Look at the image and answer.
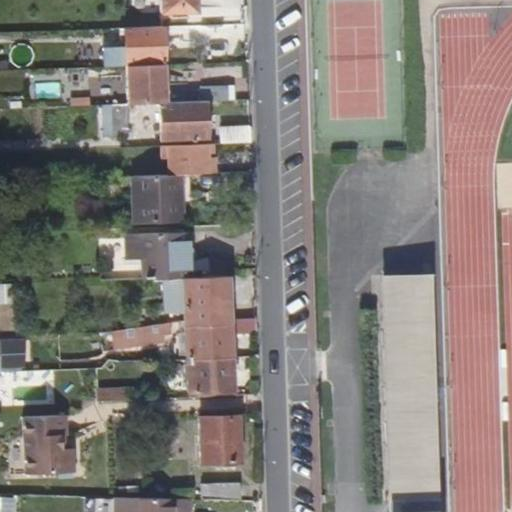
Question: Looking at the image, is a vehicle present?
Yes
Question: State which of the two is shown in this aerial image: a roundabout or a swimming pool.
swimming pool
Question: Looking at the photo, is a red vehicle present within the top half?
No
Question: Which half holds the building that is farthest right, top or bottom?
bottom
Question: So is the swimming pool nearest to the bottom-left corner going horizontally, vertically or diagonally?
horizontally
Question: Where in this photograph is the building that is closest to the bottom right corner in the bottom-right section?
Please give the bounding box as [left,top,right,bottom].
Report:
[382,274,442,494]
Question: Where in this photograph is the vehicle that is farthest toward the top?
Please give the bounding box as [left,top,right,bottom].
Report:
[276,8,302,29]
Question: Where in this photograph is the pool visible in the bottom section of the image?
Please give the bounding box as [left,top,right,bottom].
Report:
[10,383,50,404]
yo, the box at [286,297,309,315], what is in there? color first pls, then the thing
white vehicle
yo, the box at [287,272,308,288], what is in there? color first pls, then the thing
gray car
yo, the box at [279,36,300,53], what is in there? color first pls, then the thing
white vehicle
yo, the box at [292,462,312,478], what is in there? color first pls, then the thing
white car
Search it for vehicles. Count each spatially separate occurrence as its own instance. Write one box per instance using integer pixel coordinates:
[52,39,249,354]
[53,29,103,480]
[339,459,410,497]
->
[284,153,304,170]
[288,309,309,326]
[291,446,313,462]
[282,74,302,90]
[198,178,218,188]
[294,502,316,512]
[294,486,315,502]
[290,432,312,446]
[288,259,308,276]
[268,350,279,373]
[287,272,308,288]
[291,418,312,432]
[276,8,302,29]
[281,86,302,102]
[290,406,312,420]
[292,462,312,478]
[284,248,306,266]
[286,297,309,315]
[279,36,300,53]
